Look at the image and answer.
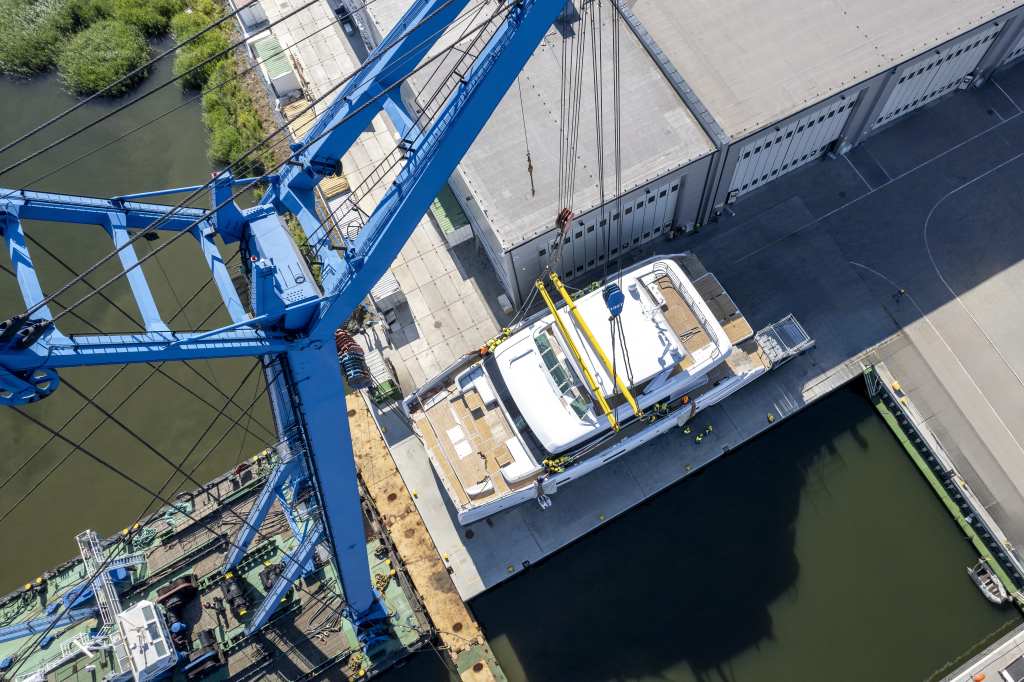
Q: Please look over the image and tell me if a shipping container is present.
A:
Yes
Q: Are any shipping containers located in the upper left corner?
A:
Yes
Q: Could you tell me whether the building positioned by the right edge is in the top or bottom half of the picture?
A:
top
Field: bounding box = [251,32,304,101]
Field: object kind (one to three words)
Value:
shipping container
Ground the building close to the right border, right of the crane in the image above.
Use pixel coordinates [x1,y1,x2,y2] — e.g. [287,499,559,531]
[623,0,1024,216]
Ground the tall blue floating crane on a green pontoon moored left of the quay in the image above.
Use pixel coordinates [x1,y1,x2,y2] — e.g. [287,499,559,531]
[0,0,621,682]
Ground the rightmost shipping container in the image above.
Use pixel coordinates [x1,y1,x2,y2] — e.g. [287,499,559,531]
[430,181,475,250]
